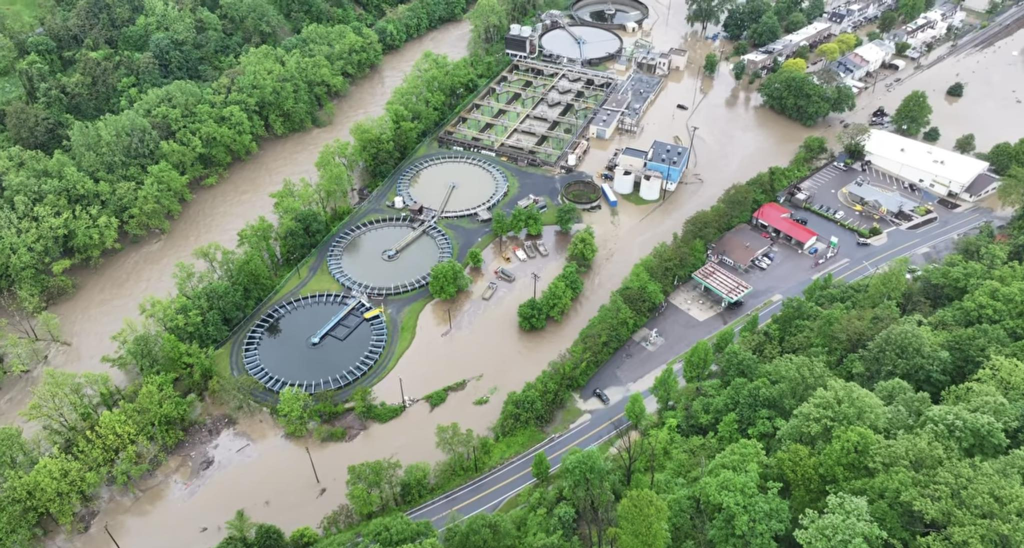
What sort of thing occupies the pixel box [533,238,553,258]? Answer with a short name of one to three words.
vehicle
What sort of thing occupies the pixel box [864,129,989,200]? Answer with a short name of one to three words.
building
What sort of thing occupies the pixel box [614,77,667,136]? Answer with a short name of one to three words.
building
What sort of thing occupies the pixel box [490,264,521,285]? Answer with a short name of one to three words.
truck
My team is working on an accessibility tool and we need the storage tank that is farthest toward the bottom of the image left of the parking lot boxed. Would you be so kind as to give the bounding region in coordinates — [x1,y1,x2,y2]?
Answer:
[241,289,388,397]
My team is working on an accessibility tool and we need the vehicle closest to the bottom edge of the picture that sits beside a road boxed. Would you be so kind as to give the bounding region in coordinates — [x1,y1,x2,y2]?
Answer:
[591,386,613,407]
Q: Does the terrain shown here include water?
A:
Yes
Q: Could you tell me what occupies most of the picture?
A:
trees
